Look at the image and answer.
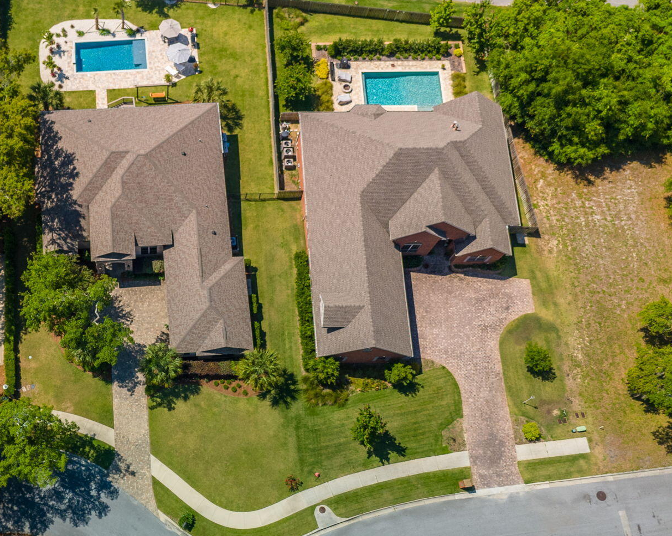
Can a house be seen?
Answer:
Yes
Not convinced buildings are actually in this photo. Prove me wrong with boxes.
[39,102,254,358]
[296,91,521,365]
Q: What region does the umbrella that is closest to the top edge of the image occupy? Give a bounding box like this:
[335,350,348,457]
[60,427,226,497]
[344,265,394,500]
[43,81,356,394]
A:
[158,18,183,44]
